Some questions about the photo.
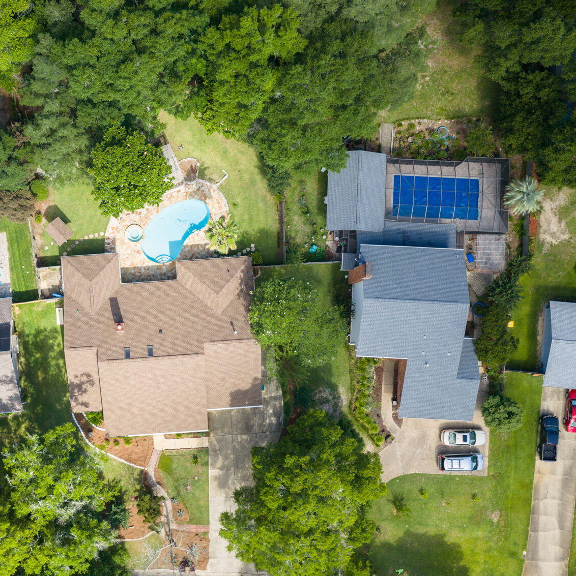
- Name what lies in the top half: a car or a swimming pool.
swimming pool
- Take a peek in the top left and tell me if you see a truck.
No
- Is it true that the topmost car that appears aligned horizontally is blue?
No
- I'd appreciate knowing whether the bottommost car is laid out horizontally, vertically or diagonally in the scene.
horizontally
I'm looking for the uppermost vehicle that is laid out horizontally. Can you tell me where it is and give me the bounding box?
[439,427,485,449]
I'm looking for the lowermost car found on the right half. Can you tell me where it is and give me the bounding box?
[436,453,483,474]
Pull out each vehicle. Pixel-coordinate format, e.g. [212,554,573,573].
[562,390,576,434]
[436,453,483,474]
[439,427,485,449]
[537,413,564,464]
